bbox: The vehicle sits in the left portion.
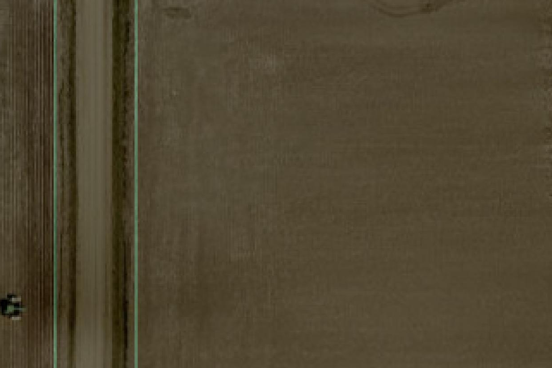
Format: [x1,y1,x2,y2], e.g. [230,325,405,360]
[1,297,25,322]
